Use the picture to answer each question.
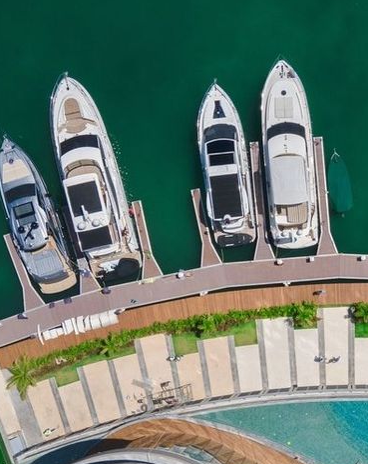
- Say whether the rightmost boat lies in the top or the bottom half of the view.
top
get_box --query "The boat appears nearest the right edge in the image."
[261,51,320,251]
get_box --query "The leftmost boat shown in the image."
[0,132,80,297]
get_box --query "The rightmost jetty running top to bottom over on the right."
[314,137,338,255]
